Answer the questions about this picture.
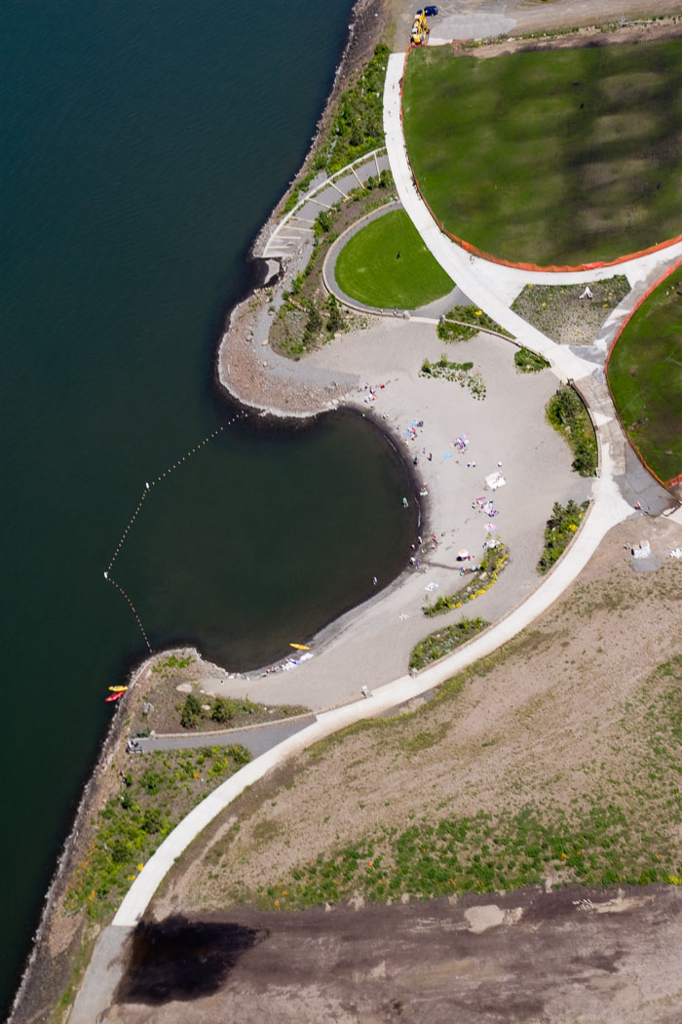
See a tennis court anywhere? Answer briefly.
No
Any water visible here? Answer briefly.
Yes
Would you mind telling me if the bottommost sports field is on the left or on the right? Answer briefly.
right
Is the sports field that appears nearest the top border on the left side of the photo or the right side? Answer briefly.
right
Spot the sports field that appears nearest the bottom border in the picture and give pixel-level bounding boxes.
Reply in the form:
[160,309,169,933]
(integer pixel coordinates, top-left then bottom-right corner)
[612,262,682,483]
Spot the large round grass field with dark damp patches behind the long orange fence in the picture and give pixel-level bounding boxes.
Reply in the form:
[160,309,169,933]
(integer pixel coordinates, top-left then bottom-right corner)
[404,38,682,270]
